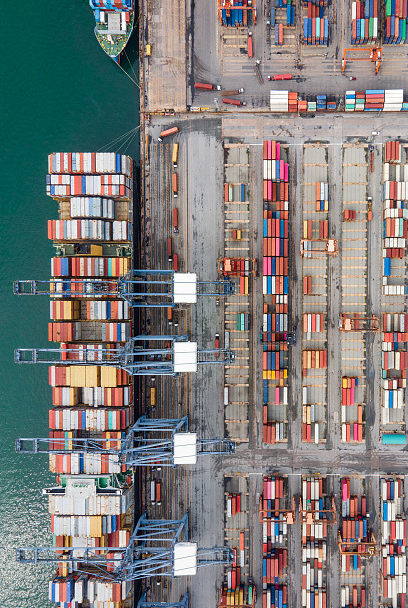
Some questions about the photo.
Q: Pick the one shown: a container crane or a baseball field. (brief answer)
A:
container crane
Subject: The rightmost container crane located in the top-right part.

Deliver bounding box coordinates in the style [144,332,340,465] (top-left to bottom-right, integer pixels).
[339,47,383,77]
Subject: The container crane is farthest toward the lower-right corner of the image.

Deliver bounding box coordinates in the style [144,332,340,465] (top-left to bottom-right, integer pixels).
[336,528,380,556]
